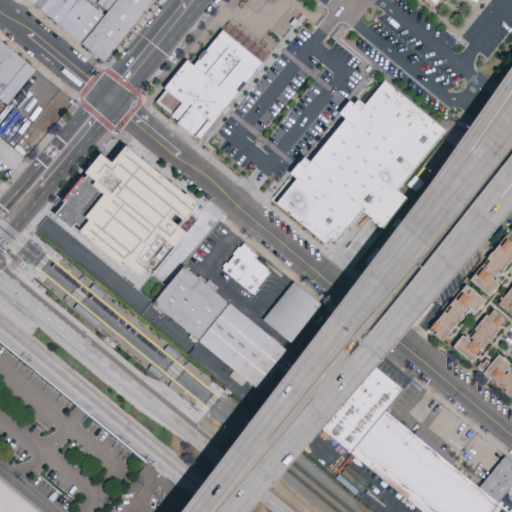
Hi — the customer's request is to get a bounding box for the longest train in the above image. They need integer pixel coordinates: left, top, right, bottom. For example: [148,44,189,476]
[52,263,167,358]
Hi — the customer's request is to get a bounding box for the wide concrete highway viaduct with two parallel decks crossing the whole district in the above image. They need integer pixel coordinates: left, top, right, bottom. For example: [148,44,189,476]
[182,68,512,512]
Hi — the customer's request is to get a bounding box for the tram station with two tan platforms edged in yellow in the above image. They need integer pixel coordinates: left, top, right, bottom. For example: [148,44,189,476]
[20,249,226,421]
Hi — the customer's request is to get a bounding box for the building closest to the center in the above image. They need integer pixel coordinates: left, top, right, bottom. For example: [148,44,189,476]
[224,244,271,295]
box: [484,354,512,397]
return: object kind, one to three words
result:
building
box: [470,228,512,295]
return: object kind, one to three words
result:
building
